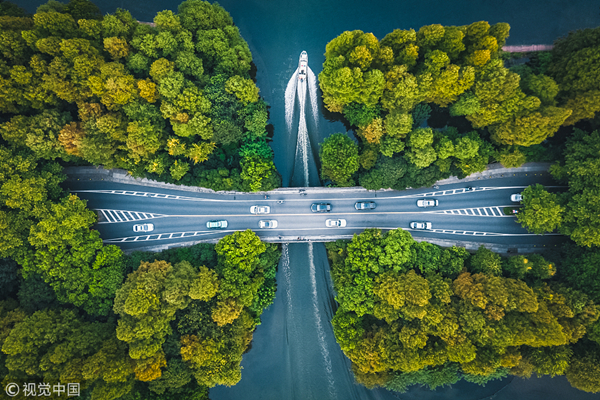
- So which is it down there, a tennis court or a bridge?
bridge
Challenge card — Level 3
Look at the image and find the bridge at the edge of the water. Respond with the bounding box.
[259,186,349,243]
